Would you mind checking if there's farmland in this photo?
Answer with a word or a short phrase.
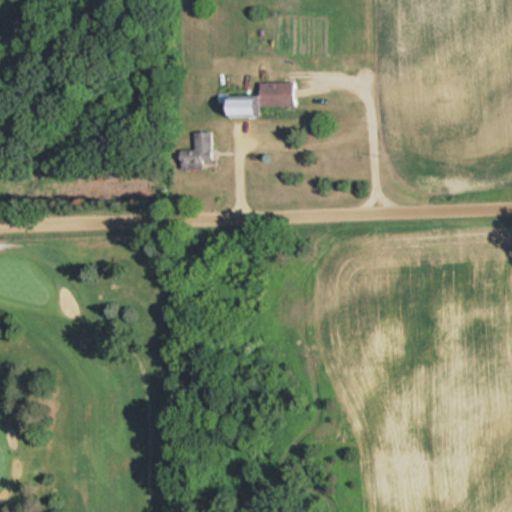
Yes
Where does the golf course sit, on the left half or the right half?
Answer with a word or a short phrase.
left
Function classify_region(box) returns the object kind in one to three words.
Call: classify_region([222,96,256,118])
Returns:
barn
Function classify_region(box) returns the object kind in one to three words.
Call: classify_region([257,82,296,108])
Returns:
barn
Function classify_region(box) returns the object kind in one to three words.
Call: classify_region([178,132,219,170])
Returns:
house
